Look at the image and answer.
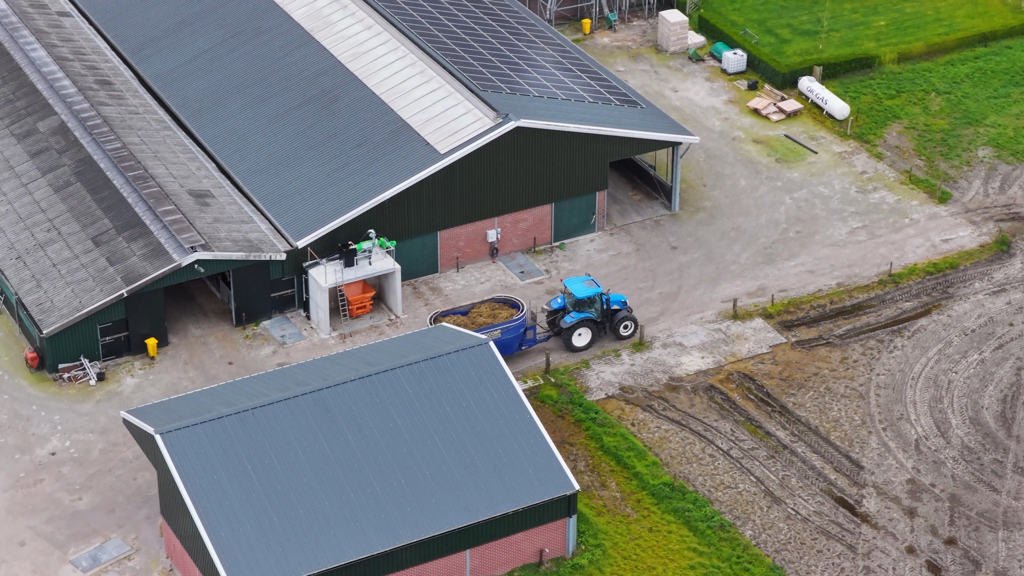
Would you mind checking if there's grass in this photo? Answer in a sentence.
Yes, the picture does contain grass.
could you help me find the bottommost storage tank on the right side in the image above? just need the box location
[802,76,853,119]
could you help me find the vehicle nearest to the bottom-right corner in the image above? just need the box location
[539,276,638,350]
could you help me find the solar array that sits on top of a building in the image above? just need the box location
[377,0,646,108]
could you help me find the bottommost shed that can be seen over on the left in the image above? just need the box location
[120,322,581,576]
